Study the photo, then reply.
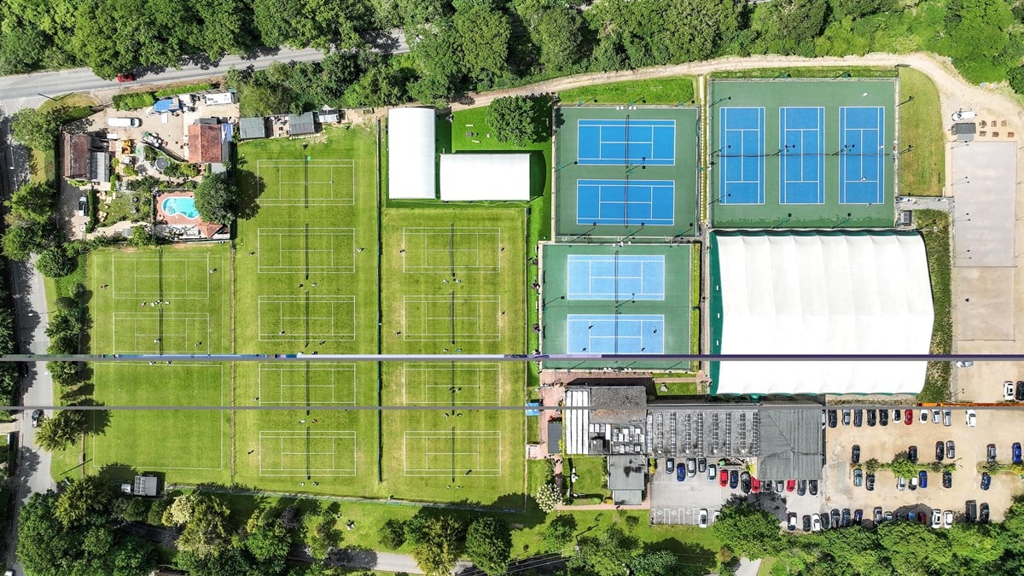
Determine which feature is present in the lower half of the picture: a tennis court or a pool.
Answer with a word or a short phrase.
tennis court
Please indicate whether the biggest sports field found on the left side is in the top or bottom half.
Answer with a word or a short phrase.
bottom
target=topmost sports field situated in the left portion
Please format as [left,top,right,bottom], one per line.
[95,255,223,360]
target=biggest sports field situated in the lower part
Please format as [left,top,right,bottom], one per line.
[94,364,222,469]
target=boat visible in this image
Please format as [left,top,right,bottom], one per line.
[156,99,181,112]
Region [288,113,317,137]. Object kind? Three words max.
shed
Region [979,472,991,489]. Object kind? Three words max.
vehicle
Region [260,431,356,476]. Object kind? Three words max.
tennis court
